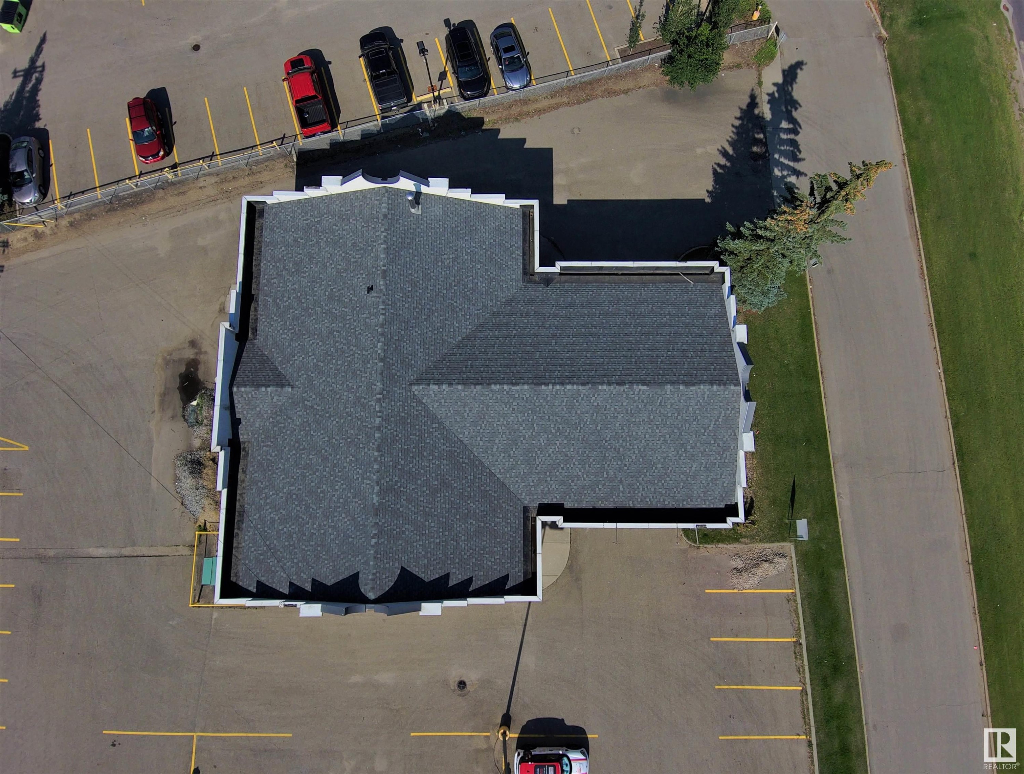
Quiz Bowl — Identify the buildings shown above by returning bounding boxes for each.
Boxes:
[213,168,758,620]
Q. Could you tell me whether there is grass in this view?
Yes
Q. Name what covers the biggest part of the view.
paved ground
